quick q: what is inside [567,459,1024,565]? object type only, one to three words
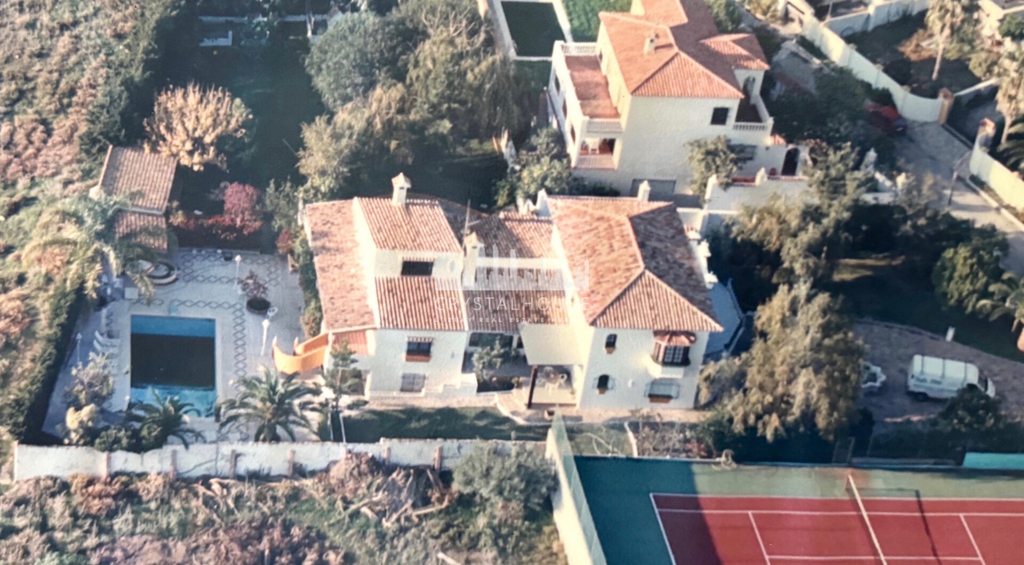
tennis court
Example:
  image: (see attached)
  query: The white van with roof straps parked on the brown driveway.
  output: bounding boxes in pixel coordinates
[903,351,994,397]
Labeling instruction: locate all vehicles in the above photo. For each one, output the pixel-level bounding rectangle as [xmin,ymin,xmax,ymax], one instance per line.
[903,351,994,397]
[858,357,892,390]
[866,99,918,131]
